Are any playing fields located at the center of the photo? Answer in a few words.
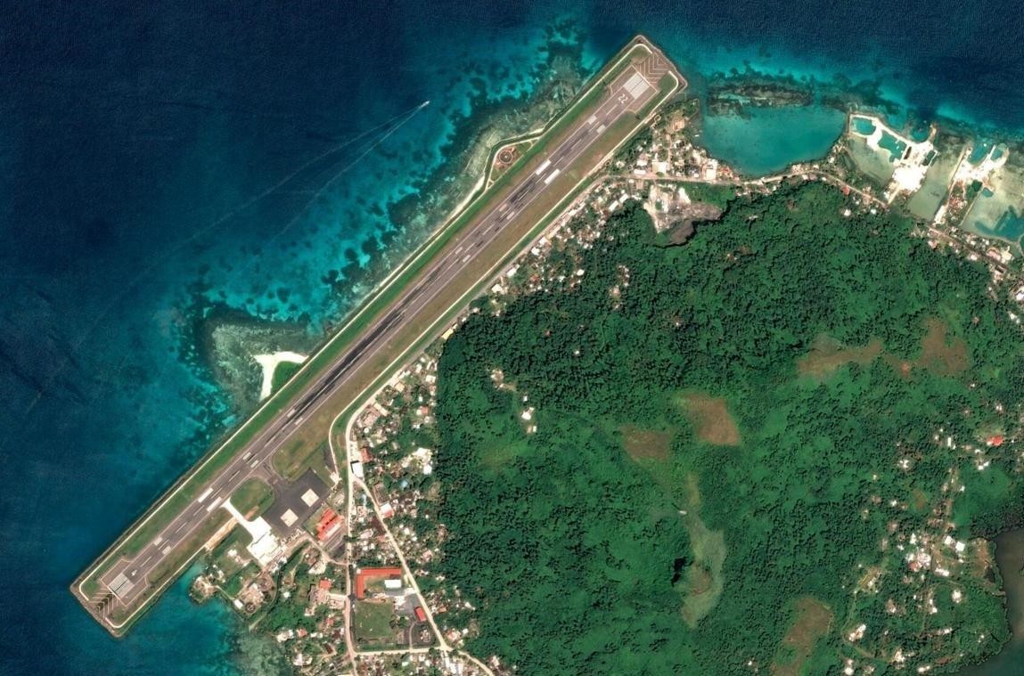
No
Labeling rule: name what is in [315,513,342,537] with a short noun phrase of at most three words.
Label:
building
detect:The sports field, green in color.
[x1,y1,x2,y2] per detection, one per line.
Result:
[356,602,393,640]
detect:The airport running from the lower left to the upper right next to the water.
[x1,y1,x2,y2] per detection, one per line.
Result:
[68,35,688,636]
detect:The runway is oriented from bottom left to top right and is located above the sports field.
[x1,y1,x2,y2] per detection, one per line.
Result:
[101,65,657,606]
